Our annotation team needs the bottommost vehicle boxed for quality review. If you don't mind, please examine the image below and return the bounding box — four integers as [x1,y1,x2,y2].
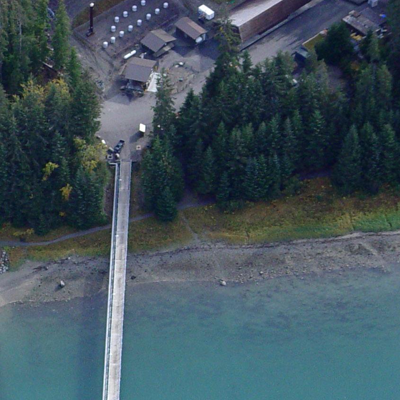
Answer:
[112,140,125,154]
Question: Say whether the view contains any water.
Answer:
Yes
